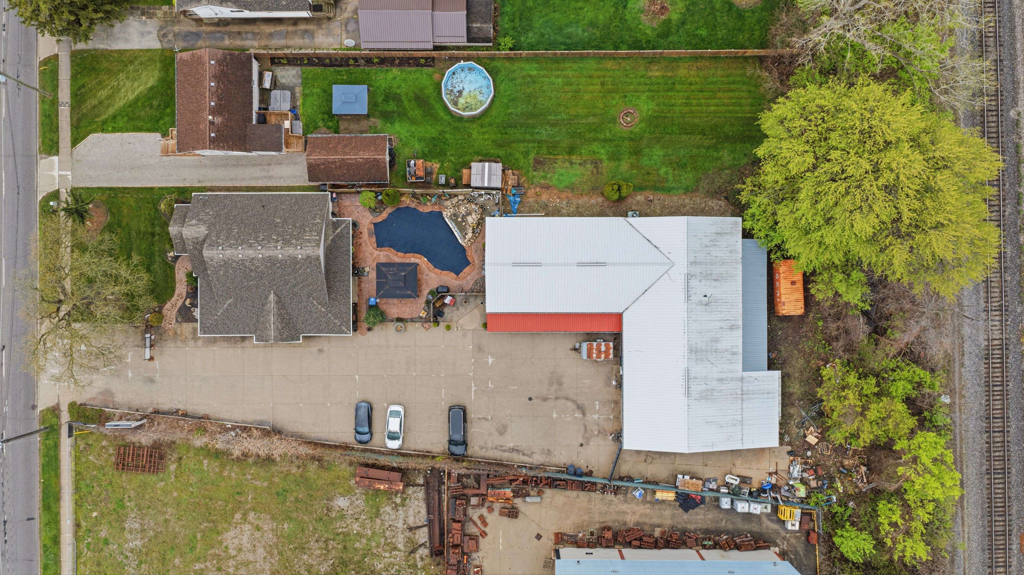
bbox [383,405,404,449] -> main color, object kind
white car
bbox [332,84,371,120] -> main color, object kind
blue gazebo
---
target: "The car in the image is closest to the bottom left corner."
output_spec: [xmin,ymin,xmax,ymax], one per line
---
[353,401,374,443]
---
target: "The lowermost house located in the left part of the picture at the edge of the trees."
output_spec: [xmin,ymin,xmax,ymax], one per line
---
[169,192,355,344]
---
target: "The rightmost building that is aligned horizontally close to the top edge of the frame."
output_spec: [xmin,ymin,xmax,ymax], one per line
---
[359,0,494,54]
